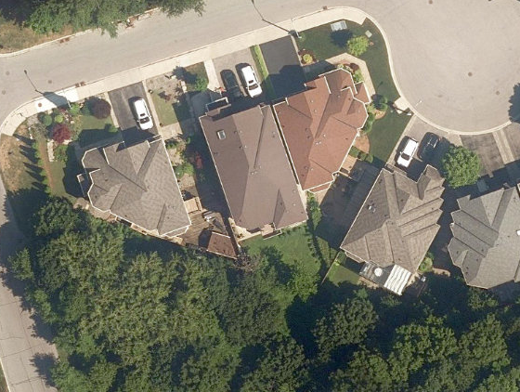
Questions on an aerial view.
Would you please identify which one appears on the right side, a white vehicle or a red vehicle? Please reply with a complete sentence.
What appears on the right side is a white vehicle.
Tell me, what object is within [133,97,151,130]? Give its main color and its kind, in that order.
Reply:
white car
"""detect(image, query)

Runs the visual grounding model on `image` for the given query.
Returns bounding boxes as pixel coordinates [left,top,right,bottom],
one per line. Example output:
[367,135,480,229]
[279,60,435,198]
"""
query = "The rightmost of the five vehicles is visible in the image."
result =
[419,132,443,164]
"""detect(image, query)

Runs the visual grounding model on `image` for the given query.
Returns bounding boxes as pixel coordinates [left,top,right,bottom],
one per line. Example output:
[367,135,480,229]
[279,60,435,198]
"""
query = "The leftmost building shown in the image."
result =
[77,135,191,237]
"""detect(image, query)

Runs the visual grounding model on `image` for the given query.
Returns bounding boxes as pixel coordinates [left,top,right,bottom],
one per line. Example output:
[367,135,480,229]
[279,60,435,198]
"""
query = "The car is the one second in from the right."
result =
[397,135,418,168]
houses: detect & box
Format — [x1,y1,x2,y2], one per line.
[199,97,308,230]
[273,68,371,193]
[447,186,520,289]
[339,164,445,273]
[77,135,191,237]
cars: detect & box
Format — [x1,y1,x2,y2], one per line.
[133,97,151,130]
[419,132,443,164]
[221,66,243,98]
[397,135,418,168]
[240,63,261,97]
